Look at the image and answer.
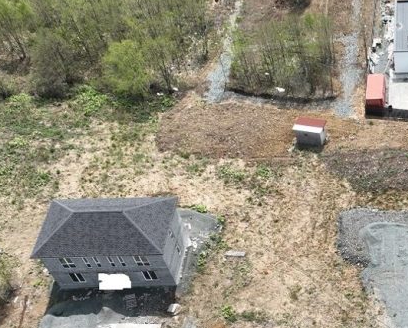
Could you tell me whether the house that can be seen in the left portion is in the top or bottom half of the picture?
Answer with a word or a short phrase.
bottom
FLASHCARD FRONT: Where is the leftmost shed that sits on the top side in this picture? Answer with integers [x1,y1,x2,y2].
[293,111,327,146]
